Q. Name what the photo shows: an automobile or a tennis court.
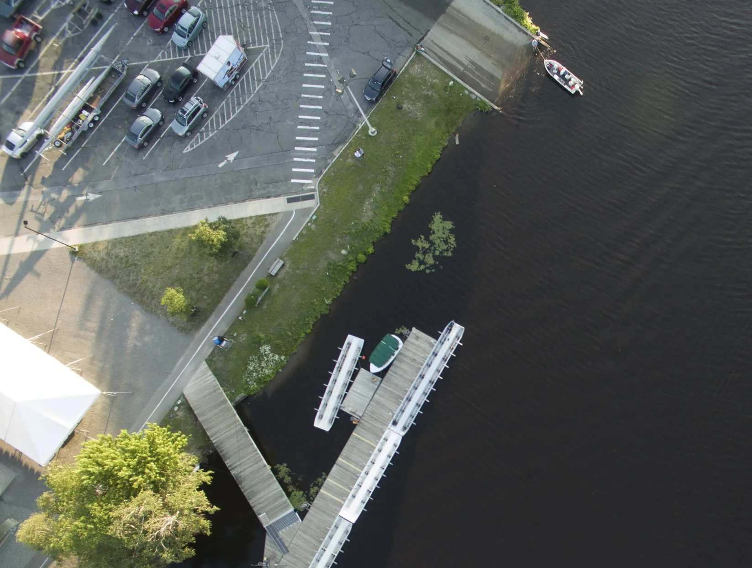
automobile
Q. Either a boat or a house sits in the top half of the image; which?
boat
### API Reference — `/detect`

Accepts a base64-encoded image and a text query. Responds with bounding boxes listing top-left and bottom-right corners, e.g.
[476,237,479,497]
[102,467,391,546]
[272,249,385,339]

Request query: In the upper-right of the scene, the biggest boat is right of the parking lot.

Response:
[544,59,583,95]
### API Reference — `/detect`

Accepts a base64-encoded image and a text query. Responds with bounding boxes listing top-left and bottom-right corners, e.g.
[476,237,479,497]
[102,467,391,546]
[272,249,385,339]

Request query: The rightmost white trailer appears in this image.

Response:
[197,32,247,91]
